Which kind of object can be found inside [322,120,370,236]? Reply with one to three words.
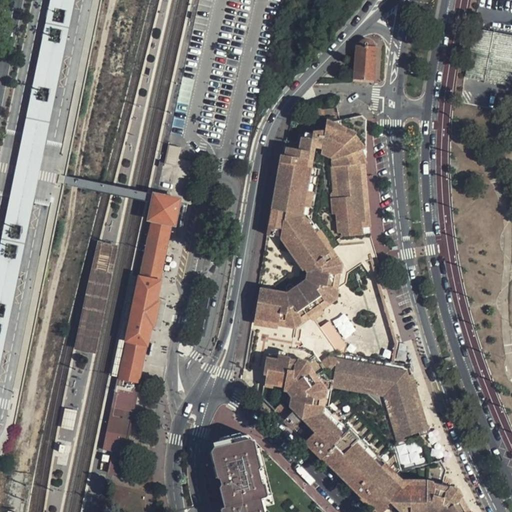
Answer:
building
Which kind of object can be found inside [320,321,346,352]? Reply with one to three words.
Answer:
building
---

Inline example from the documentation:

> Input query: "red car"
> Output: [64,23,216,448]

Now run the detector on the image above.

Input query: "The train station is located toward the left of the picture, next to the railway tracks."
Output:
[112,192,182,384]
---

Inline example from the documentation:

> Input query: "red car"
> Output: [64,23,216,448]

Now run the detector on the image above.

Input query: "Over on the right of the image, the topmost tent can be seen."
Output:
[332,313,356,339]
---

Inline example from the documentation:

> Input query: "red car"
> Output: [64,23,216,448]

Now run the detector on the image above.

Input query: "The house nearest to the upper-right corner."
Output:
[352,36,377,84]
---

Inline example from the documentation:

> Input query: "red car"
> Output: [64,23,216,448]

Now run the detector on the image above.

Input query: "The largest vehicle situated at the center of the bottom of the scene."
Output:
[293,464,316,486]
